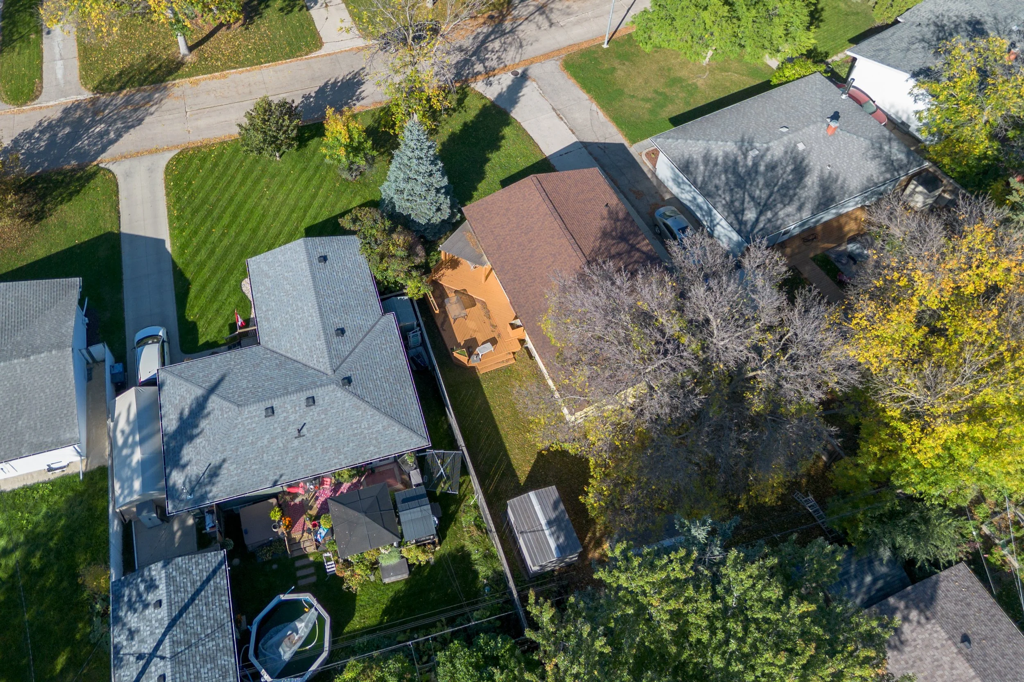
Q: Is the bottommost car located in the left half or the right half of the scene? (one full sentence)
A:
It is on the left.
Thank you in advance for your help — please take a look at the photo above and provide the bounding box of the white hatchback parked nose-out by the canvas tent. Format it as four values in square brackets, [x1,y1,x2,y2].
[131,327,174,386]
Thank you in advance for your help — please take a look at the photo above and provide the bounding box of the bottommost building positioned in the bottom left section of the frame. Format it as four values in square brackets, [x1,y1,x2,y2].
[103,549,239,682]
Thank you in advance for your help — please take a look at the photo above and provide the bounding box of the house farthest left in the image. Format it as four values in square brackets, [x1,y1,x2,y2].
[0,278,114,483]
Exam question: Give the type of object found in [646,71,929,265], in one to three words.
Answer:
house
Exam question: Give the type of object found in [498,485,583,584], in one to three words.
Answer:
shed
